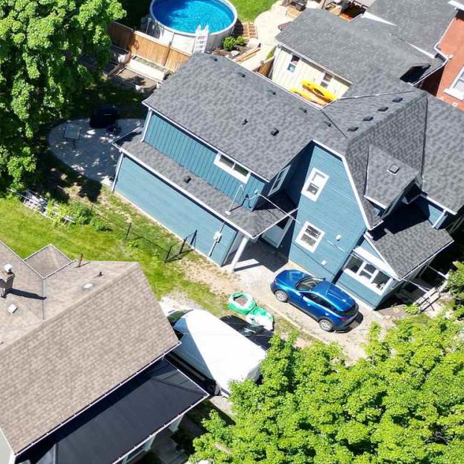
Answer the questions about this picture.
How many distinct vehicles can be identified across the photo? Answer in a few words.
2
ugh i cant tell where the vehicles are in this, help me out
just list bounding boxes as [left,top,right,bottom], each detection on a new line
[270,276,364,328]
[166,302,260,392]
